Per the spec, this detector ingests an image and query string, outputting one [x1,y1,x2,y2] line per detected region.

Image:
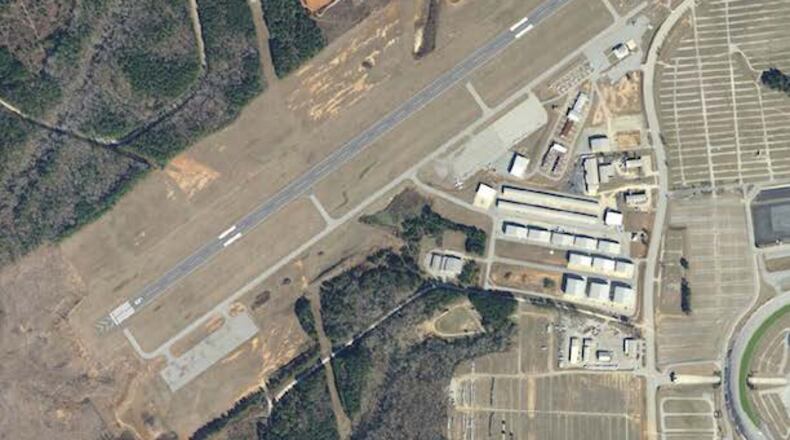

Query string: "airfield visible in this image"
[98,0,656,393]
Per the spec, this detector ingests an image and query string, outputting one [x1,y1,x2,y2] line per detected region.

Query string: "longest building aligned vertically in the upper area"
[586,157,599,189]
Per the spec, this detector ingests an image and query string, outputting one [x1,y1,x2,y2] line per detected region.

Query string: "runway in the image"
[98,0,575,333]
